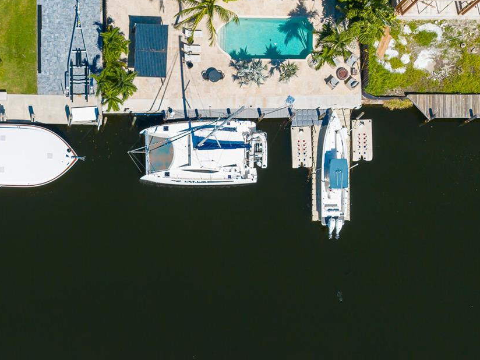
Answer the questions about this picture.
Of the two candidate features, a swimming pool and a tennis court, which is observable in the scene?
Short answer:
swimming pool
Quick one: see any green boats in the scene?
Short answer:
No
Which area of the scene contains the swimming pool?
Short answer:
top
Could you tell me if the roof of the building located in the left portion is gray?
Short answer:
No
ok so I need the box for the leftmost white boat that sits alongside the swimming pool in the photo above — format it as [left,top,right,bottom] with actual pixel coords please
[128,105,257,185]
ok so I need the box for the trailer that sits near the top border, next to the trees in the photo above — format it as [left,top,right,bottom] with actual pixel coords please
[63,0,93,101]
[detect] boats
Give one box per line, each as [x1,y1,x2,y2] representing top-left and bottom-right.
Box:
[252,130,268,169]
[0,122,85,186]
[315,112,358,242]
[128,105,257,185]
